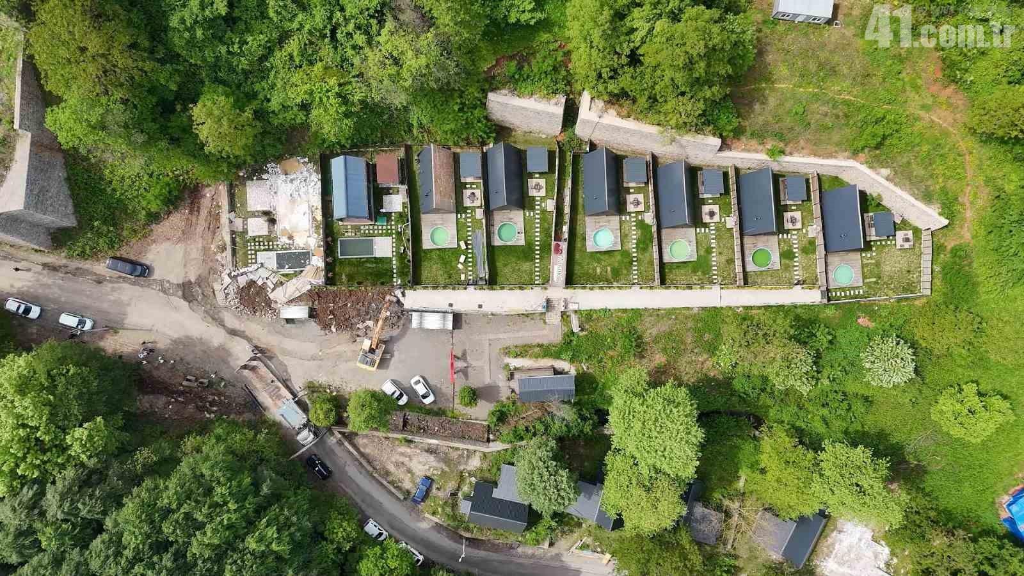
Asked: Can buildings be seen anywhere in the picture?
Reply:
Yes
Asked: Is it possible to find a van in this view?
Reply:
Yes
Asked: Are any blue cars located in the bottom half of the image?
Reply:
Yes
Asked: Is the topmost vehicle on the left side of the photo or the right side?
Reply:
left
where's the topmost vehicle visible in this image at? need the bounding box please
[104,255,150,278]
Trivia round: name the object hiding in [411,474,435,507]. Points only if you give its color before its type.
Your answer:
blue car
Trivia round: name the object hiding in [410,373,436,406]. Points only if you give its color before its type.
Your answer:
white car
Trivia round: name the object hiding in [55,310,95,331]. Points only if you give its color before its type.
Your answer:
white vehicle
